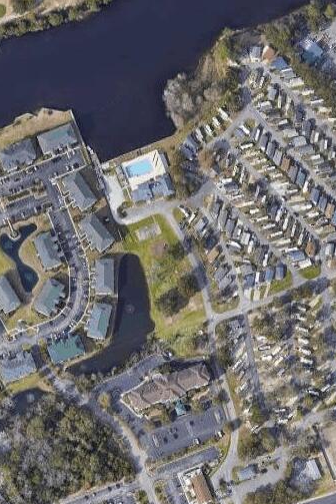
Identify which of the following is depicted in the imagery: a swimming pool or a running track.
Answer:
swimming pool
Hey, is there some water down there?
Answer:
Yes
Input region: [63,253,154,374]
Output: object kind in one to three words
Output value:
pond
